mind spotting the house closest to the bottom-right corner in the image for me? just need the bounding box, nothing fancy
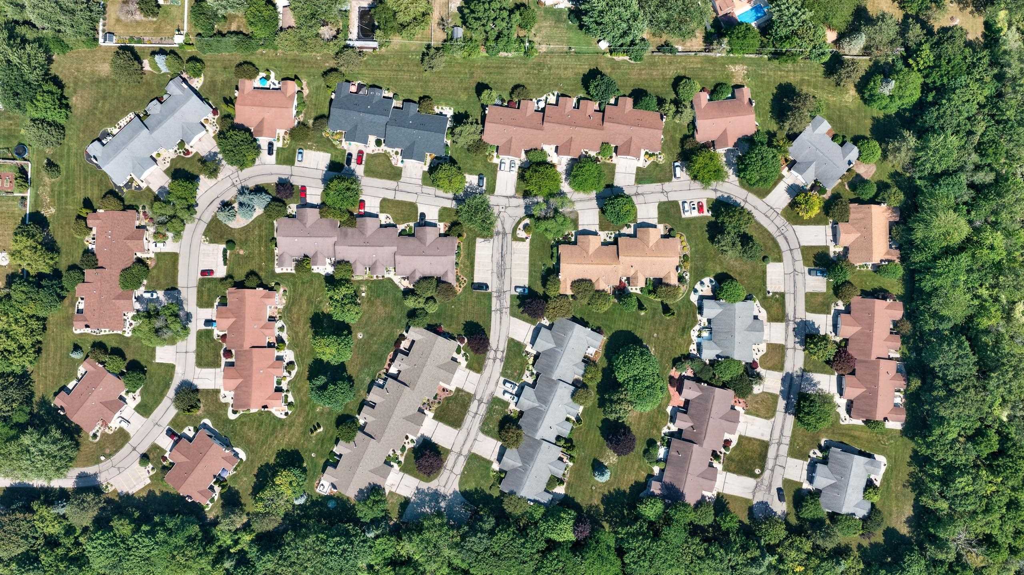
[811,448,883,519]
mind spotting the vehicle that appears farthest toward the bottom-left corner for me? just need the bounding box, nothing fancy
[116,417,132,430]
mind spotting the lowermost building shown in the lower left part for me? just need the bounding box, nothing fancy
[165,429,240,506]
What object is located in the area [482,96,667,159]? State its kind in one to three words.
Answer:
house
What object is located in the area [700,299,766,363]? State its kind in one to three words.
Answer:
house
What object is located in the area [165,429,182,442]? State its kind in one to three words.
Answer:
vehicle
